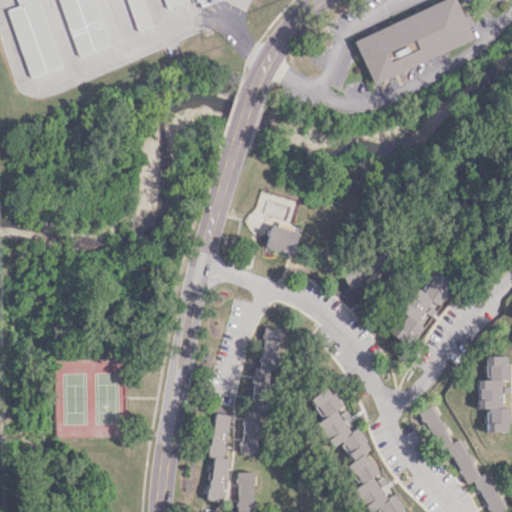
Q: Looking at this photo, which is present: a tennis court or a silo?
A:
tennis court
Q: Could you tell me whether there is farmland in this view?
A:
No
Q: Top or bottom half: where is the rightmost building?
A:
bottom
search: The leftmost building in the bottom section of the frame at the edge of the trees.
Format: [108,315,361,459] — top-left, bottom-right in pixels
[204,414,232,501]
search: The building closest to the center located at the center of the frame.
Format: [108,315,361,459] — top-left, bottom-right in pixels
[268,224,302,256]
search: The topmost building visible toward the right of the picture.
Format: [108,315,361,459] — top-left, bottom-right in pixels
[356,0,478,88]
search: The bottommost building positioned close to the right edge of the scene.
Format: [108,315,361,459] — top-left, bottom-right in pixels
[422,408,509,512]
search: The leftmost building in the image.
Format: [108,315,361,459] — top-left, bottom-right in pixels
[8,0,64,77]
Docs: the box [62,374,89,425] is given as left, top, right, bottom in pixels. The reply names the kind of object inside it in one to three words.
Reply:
tennis court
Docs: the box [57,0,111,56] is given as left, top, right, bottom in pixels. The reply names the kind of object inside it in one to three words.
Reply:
building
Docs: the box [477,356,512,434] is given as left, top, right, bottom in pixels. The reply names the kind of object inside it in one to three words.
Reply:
building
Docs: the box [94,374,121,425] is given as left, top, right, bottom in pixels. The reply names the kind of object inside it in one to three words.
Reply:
tennis court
